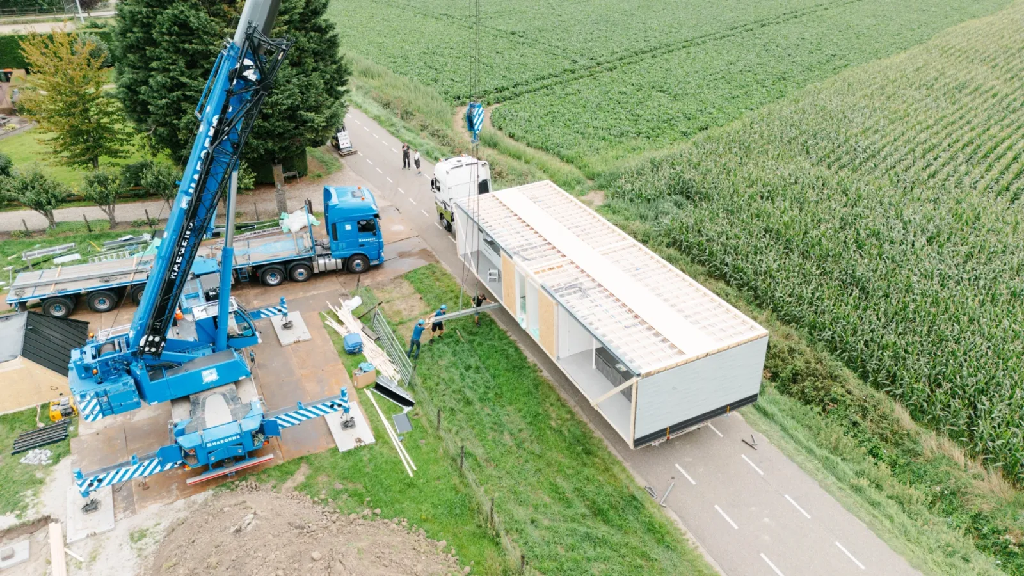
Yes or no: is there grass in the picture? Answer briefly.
Yes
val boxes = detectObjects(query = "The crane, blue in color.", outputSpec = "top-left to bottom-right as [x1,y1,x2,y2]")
[66,0,356,509]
